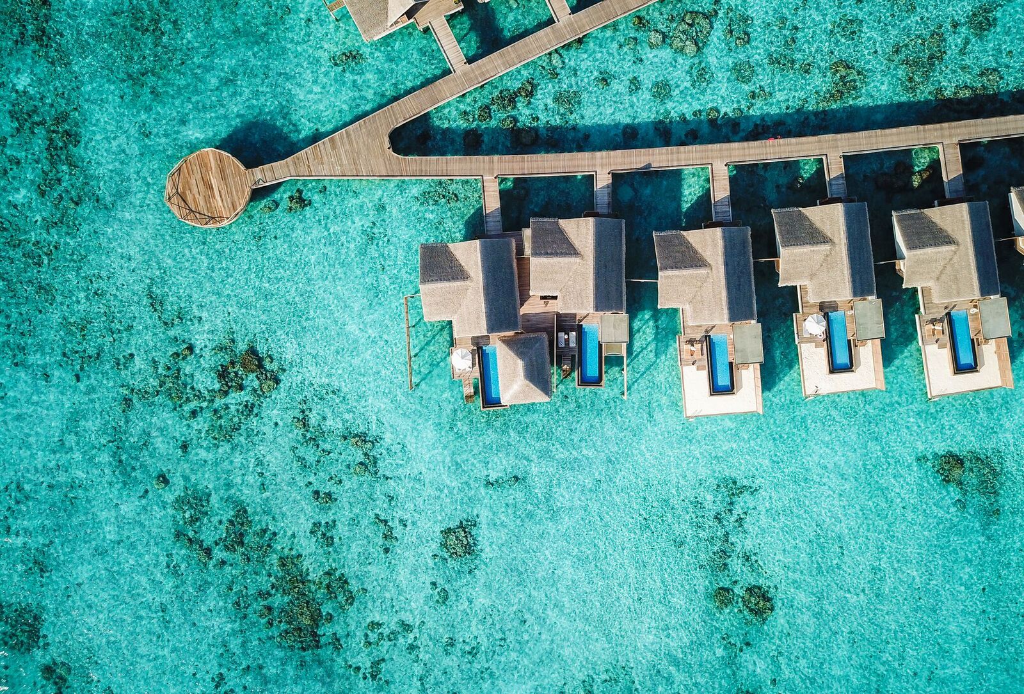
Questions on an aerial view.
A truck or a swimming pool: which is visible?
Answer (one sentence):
The image shows a swimming pool.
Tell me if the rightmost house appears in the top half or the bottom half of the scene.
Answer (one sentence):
Seen from above, the rightmost house lies in the top half of the view.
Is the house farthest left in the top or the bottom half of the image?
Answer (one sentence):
You can find the house farthest left in the top half.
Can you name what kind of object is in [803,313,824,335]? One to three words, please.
umbrella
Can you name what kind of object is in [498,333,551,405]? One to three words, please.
building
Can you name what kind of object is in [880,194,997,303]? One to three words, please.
house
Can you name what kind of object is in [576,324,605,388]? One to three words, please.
swimming pool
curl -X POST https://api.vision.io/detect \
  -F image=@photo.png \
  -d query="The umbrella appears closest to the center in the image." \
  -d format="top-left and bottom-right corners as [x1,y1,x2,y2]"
[451,348,472,370]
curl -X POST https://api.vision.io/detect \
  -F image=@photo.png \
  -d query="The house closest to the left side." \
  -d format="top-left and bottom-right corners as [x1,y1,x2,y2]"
[344,0,426,45]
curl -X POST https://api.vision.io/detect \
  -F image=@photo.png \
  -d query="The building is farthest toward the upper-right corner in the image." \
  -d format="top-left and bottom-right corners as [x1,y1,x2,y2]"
[992,187,1024,262]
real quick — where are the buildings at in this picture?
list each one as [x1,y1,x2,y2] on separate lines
[420,231,521,337]
[498,333,551,405]
[880,194,997,303]
[529,211,625,313]
[653,220,755,326]
[344,0,426,45]
[766,195,875,303]
[992,187,1024,262]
